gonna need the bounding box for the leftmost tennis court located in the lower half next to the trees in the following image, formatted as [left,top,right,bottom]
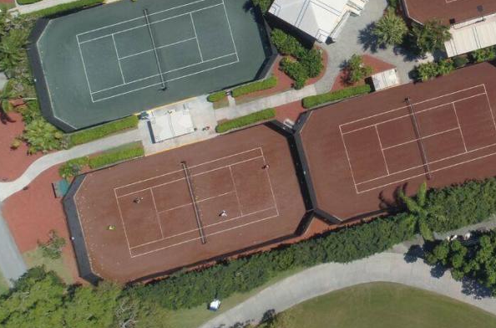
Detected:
[75,122,314,284]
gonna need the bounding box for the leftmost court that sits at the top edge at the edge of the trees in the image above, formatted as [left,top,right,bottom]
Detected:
[37,0,273,128]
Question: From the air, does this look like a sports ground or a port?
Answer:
sports ground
